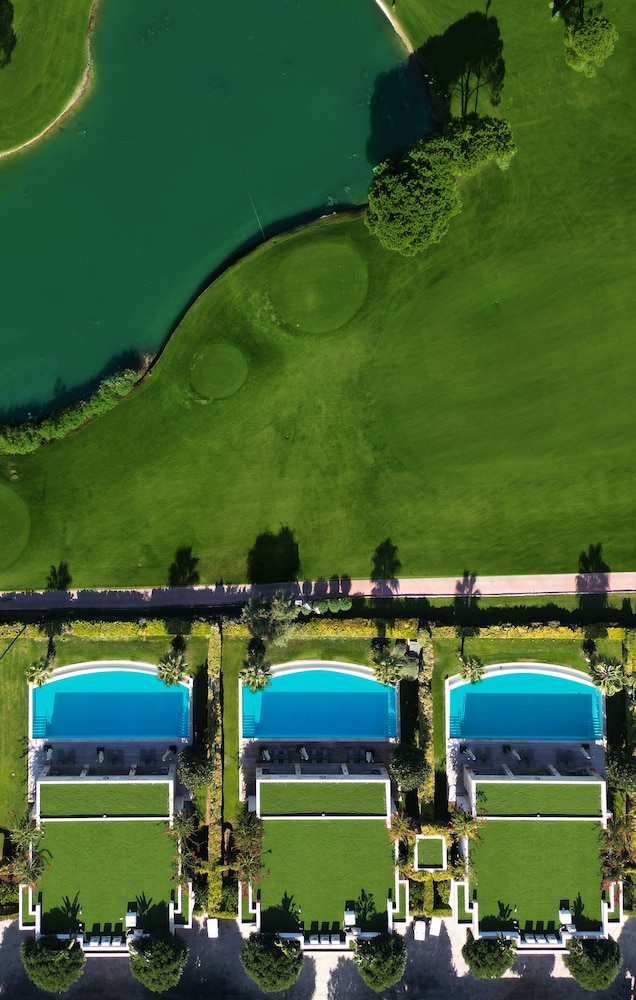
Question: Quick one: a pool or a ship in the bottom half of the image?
pool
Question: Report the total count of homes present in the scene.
3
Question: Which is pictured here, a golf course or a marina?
golf course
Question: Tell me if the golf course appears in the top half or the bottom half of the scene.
top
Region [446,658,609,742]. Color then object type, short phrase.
blue swimming pool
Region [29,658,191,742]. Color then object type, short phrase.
blue swimming pool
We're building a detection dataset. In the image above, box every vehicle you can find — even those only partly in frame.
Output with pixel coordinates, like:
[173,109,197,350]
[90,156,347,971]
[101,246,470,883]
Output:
[206,914,219,938]
[427,914,442,938]
[413,914,426,939]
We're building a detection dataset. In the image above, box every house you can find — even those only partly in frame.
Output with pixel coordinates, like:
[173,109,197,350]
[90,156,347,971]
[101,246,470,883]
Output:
[20,764,196,956]
[451,764,627,956]
[238,764,409,956]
